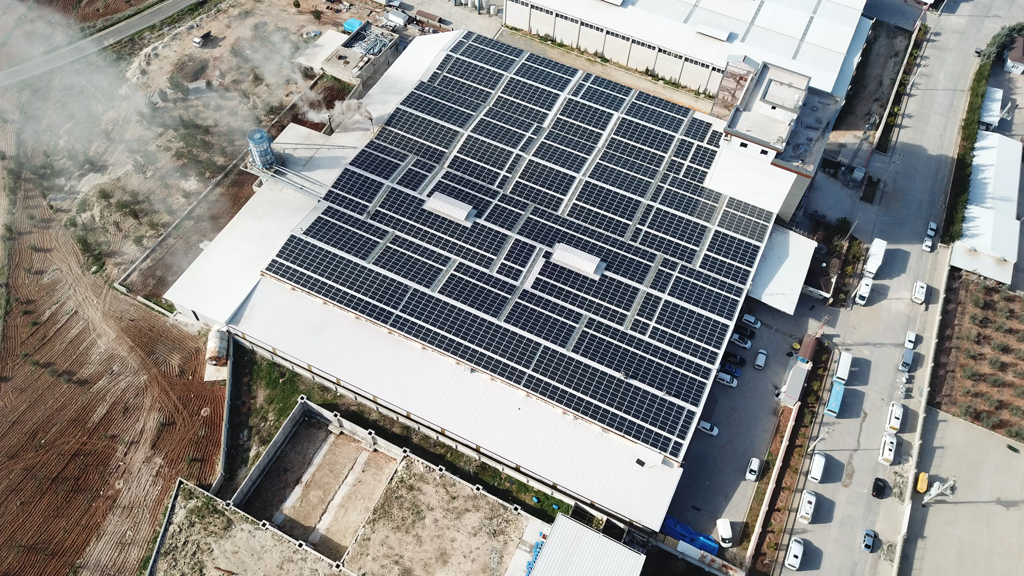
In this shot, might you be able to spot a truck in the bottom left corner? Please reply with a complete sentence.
No, there is no truck in the bottom left corner.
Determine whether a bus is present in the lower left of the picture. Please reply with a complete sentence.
No, I can find no bus in the lower left of the picture.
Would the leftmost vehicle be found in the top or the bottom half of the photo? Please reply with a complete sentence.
Seen from above, the leftmost vehicle lies in the top half of the view.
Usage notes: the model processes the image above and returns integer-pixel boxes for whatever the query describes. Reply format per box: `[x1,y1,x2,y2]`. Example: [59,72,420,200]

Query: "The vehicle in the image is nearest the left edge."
[191,28,215,48]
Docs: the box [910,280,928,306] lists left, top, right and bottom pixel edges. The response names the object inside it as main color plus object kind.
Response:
white vehicle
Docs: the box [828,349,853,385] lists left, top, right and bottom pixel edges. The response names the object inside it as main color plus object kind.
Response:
white bus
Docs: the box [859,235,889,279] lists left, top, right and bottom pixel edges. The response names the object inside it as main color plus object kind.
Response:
white truck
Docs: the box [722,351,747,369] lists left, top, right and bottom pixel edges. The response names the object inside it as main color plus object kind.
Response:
black car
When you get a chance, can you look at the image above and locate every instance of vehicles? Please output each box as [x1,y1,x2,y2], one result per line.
[753,349,768,371]
[807,452,826,485]
[739,311,763,331]
[733,324,757,342]
[782,534,805,576]
[869,475,887,503]
[859,235,889,279]
[855,275,876,307]
[714,370,739,389]
[695,420,720,438]
[796,488,817,528]
[744,456,762,484]
[972,47,982,59]
[718,362,742,379]
[191,28,215,48]
[859,526,876,556]
[910,280,928,306]
[722,351,747,369]
[715,516,734,549]
[380,17,399,32]
[876,432,897,468]
[828,349,853,385]
[902,328,919,348]
[920,235,933,255]
[884,401,904,436]
[729,334,752,351]
[897,346,916,374]
[820,382,846,423]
